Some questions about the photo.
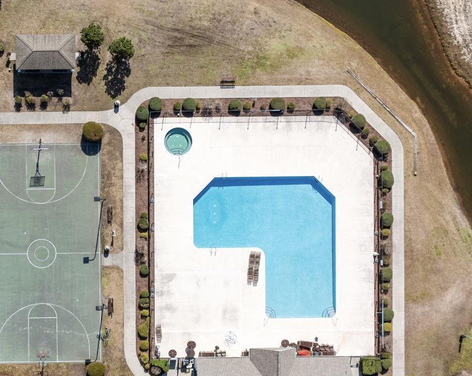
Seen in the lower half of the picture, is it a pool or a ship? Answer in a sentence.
Looking in the lower half of the picture, you will find a pool.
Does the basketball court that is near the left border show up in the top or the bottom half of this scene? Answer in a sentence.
The bottom half of the photo is where the basketball court that is near the left border is.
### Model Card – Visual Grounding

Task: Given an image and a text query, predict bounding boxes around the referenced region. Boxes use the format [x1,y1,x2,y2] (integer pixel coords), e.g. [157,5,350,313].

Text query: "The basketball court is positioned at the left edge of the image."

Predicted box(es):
[0,144,102,364]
